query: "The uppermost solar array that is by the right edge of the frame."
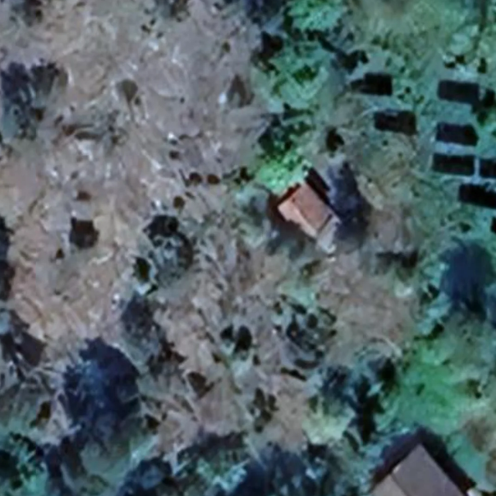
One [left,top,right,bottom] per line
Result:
[437,79,479,102]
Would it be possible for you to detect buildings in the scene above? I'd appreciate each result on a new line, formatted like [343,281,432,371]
[370,444,464,496]
[278,183,334,237]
